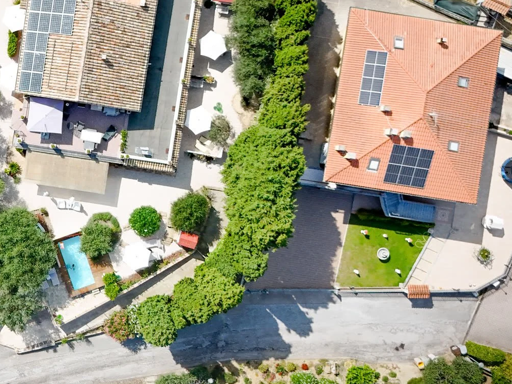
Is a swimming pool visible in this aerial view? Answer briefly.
Yes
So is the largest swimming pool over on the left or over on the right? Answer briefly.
left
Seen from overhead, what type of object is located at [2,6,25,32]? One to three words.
umbrella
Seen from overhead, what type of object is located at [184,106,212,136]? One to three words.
umbrella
